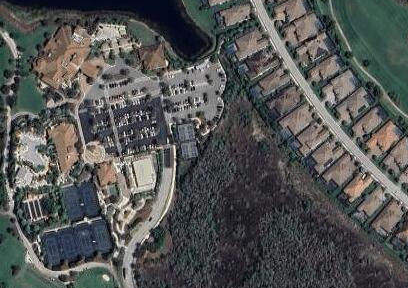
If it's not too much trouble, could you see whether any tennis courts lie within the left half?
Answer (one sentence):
Yes, a tennis court appears within the left half.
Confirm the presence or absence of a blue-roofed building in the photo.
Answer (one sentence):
No, the scene contains no blue-roofed building.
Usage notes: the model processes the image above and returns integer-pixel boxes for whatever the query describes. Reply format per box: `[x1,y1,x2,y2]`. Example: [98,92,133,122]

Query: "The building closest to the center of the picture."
[132,157,156,187]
